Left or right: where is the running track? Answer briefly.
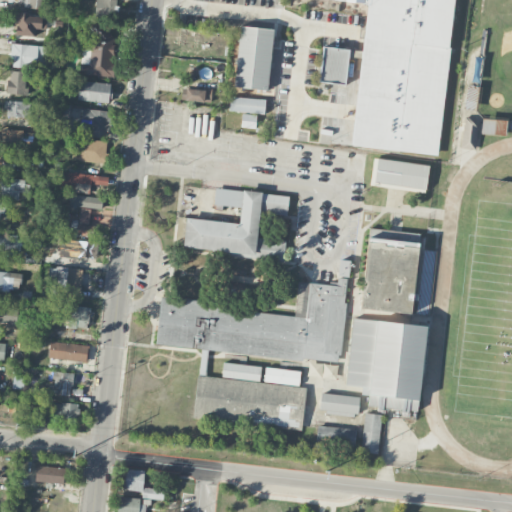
right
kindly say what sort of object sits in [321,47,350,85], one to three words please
building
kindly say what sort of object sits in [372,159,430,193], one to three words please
building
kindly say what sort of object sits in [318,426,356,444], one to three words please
shed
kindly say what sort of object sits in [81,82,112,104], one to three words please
house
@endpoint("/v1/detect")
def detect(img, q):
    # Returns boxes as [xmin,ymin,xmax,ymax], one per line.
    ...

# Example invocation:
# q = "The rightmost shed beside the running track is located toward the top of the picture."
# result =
[483,119,509,136]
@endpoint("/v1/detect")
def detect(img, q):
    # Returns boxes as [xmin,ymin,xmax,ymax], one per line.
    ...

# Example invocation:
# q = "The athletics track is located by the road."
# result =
[426,138,512,477]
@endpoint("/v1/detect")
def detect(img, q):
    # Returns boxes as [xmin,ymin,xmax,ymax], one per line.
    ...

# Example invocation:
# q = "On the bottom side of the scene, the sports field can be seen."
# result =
[453,200,512,418]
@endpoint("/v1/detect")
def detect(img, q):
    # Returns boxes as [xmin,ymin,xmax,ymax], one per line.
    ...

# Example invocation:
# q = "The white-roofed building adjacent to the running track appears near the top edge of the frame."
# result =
[352,0,457,156]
